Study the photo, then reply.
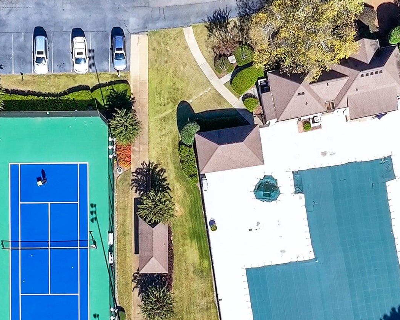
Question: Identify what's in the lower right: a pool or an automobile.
pool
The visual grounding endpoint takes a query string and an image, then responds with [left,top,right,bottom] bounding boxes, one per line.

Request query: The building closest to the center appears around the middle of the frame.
[196,124,264,175]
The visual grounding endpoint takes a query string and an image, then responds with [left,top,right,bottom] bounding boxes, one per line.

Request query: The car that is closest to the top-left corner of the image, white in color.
[32,38,49,73]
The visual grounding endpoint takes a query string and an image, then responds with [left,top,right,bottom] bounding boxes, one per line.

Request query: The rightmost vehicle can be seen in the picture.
[112,36,128,68]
